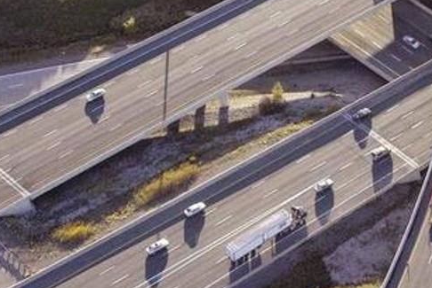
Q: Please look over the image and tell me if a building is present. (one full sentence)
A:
No, no building can be seen from above.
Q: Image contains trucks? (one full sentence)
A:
Yes, there's a truck down there.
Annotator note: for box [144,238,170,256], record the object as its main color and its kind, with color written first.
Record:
white car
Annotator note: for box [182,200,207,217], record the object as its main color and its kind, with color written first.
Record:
white car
